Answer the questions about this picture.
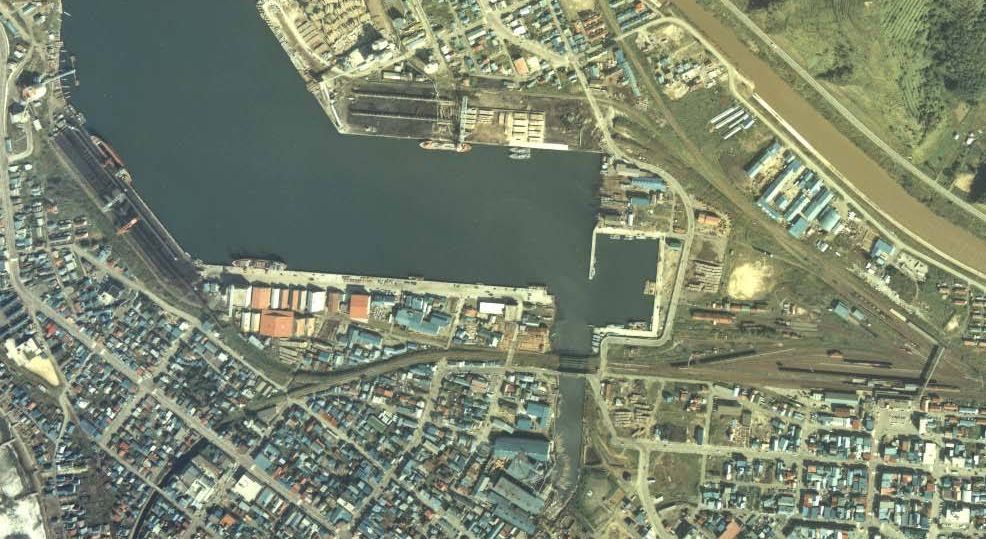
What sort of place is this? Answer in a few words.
port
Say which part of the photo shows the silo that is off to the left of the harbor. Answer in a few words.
top left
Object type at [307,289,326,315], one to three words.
building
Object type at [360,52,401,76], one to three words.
building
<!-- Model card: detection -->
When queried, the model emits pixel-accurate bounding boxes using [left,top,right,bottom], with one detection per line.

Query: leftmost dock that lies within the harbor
[69,122,195,266]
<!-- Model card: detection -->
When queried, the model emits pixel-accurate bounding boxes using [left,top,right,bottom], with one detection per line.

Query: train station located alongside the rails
[813,377,931,425]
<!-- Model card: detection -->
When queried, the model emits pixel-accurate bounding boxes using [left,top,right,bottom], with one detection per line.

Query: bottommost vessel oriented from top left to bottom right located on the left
[90,136,134,185]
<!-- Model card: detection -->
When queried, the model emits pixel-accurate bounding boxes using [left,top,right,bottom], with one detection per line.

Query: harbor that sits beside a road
[69,3,666,352]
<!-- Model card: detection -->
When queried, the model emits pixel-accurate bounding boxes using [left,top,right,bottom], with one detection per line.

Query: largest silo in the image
[21,85,50,106]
